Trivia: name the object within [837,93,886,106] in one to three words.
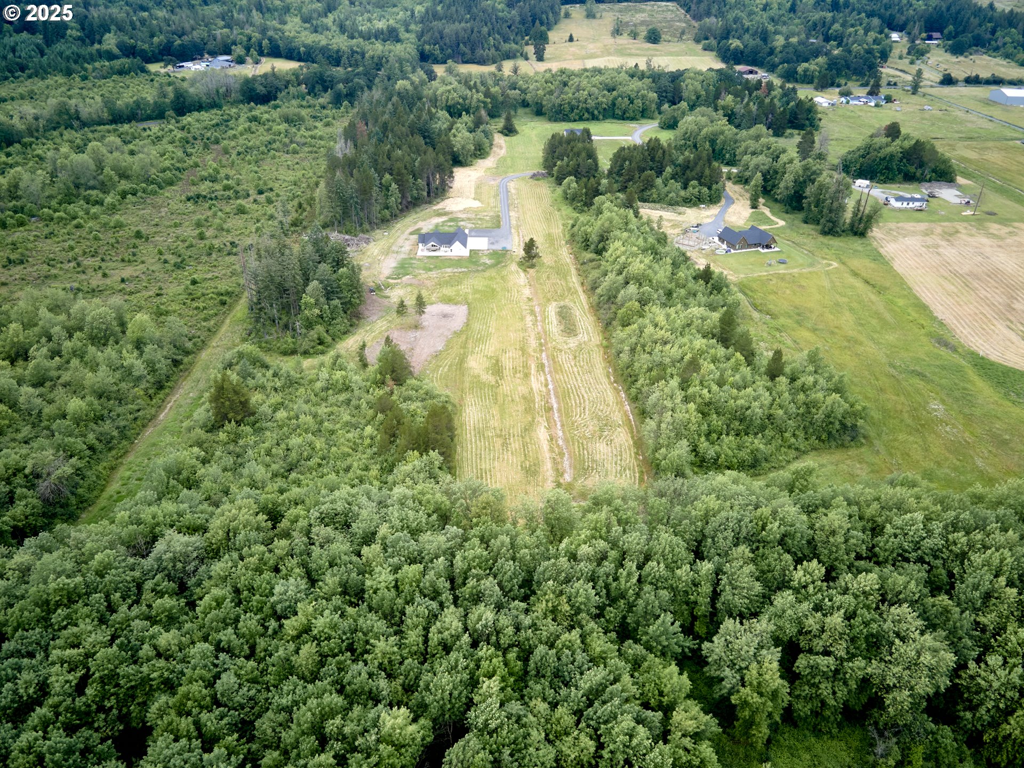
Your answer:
house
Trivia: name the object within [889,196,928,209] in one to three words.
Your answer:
house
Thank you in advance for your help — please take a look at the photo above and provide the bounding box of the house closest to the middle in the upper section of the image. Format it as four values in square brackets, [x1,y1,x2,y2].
[416,225,474,256]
